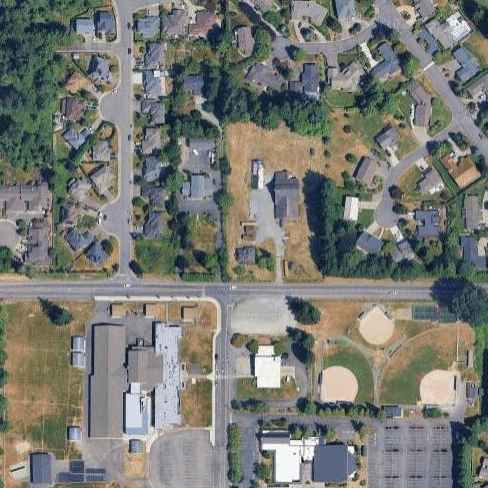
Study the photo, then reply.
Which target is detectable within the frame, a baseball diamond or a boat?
baseball diamond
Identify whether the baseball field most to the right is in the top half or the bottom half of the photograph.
bottom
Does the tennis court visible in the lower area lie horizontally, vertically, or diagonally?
horizontally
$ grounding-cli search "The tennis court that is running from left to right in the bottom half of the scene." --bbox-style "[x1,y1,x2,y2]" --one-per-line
[411,305,458,324]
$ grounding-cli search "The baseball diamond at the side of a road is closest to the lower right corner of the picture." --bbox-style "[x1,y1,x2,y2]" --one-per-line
[378,357,464,407]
